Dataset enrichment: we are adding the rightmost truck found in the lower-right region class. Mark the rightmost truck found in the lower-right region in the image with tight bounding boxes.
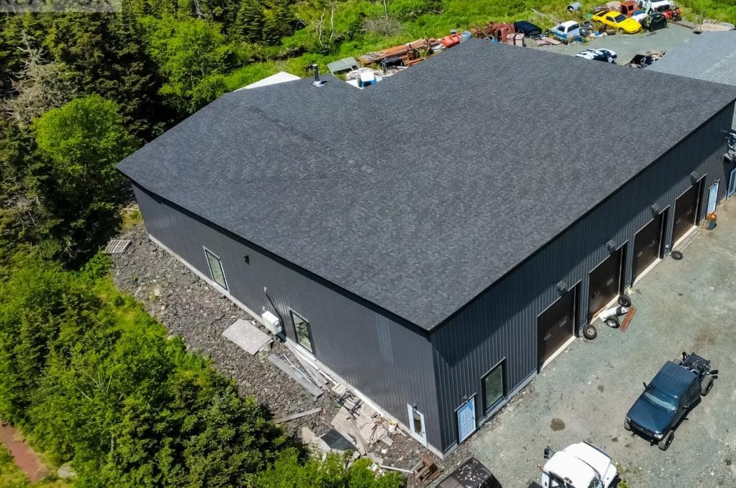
[623,350,724,449]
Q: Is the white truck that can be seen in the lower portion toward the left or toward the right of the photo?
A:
right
